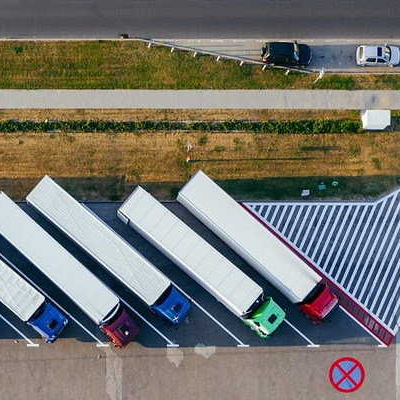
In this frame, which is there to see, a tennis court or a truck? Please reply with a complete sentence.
I can see a truck in this picture.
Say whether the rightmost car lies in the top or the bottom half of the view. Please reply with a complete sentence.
It is in the top half that the rightmost car appears.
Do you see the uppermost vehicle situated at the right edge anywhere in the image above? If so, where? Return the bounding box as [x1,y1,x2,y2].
[354,41,400,69]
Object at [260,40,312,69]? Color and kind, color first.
black car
